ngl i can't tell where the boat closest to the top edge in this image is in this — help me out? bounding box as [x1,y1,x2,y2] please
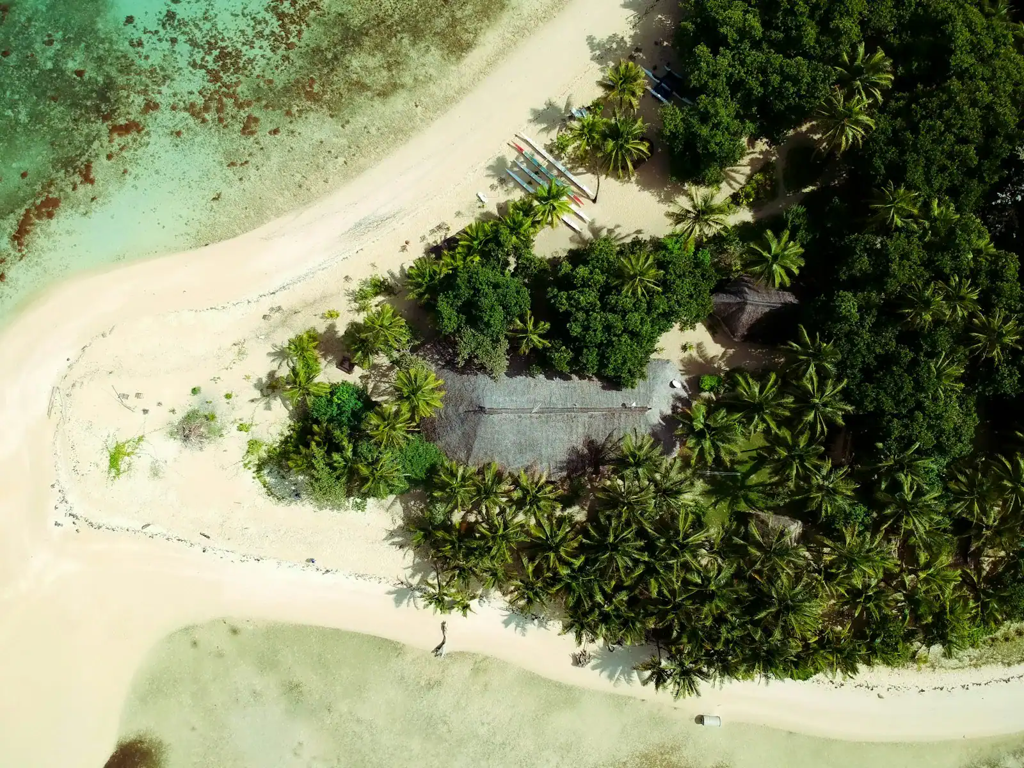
[642,54,694,108]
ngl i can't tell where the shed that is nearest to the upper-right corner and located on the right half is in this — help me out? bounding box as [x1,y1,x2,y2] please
[711,273,804,345]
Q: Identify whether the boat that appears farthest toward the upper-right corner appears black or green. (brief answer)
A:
black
